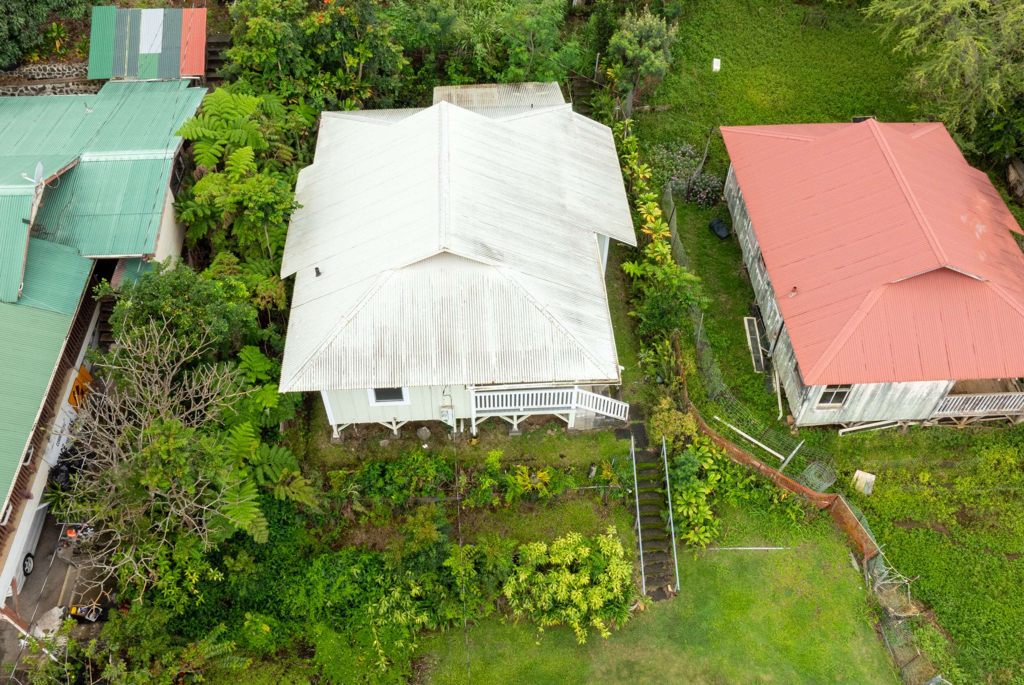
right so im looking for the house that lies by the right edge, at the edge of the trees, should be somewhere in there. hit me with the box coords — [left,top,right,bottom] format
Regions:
[719,117,1024,438]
